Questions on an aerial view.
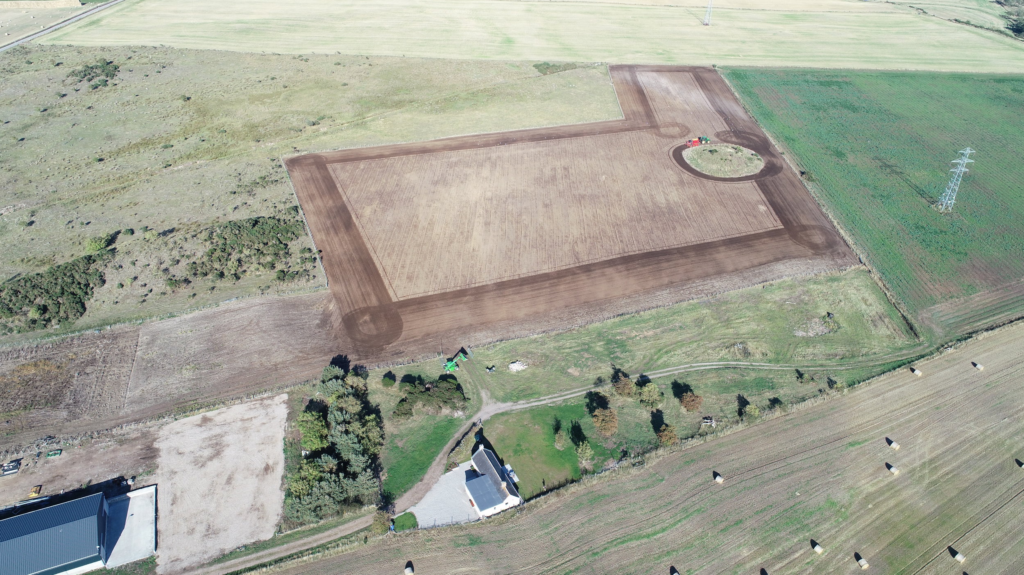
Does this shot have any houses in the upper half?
No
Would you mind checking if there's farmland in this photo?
Yes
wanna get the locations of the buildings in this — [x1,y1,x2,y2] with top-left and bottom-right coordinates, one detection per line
[464,444,520,519]
[0,492,111,575]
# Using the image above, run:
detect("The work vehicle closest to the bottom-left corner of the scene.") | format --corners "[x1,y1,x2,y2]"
[442,352,470,374]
